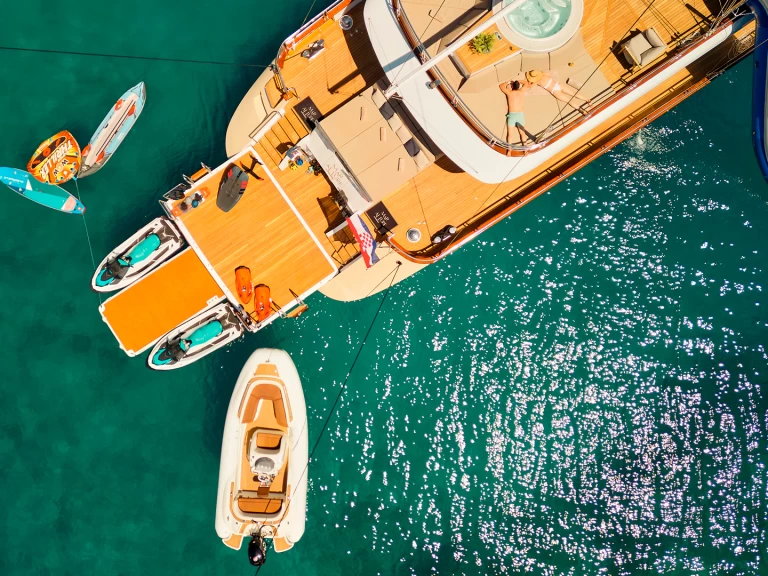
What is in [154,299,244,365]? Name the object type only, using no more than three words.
boat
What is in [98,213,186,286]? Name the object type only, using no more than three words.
boat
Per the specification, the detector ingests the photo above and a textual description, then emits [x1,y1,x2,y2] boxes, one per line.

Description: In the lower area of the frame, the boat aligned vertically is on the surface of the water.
[212,349,308,567]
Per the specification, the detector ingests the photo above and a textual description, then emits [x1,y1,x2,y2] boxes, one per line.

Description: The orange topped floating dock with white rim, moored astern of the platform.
[100,248,222,356]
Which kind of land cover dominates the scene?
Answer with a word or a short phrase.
water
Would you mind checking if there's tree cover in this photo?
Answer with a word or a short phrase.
No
